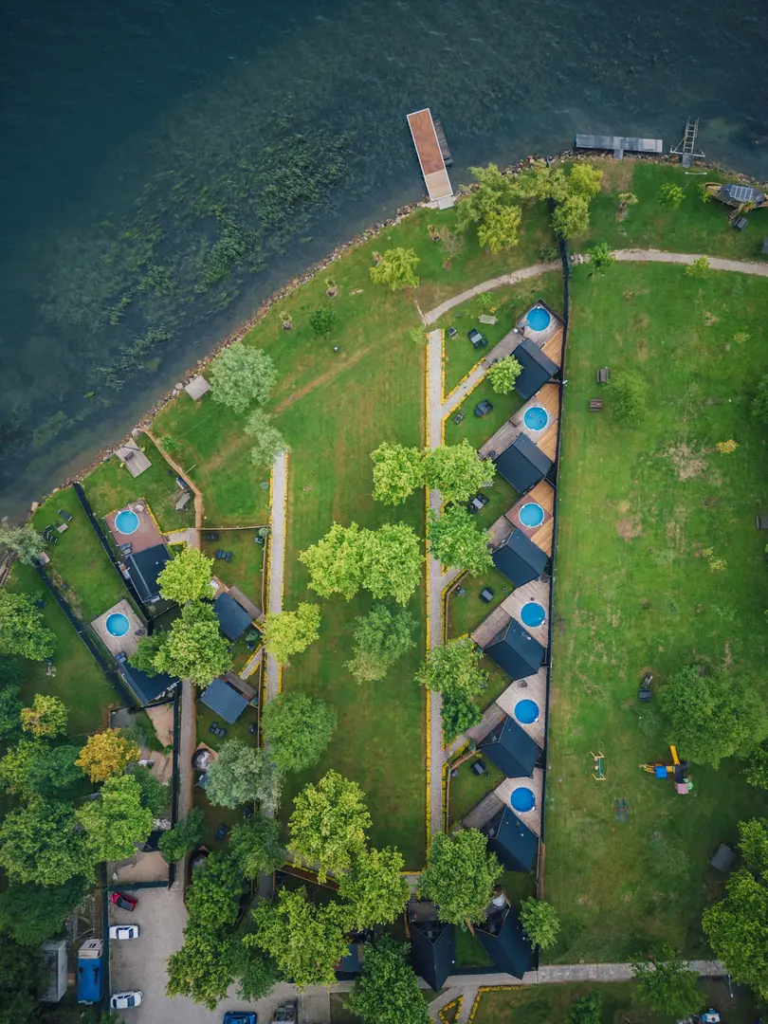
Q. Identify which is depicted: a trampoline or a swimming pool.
swimming pool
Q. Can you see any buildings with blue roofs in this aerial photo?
Yes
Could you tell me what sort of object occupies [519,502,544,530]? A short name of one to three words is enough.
swimming pool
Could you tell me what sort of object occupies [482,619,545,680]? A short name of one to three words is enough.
building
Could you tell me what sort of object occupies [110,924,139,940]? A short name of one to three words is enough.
car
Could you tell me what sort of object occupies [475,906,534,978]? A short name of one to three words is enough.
building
